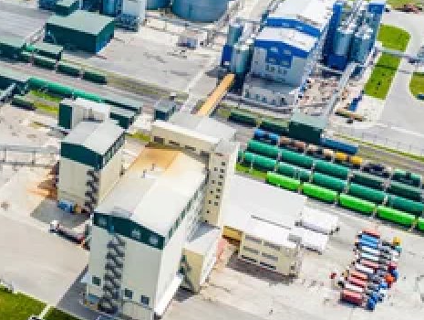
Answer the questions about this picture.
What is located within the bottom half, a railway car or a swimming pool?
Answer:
railway car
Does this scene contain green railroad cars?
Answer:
Yes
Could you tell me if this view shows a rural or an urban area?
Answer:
urban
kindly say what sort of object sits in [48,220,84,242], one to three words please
truck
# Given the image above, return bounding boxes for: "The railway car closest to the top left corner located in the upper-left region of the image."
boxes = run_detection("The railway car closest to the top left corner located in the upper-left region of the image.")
[21,52,43,66]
